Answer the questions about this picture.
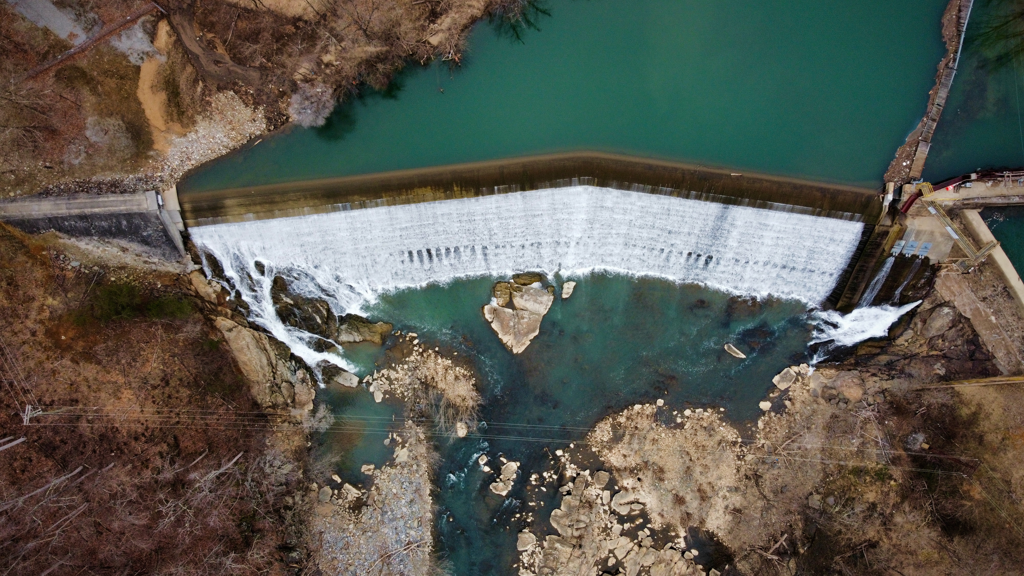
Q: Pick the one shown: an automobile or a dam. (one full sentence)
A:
Visible in the photo is a dam.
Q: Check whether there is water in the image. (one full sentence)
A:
Yes, water can be seen from above here.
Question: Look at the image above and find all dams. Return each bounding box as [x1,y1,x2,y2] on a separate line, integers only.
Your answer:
[186,146,880,303]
